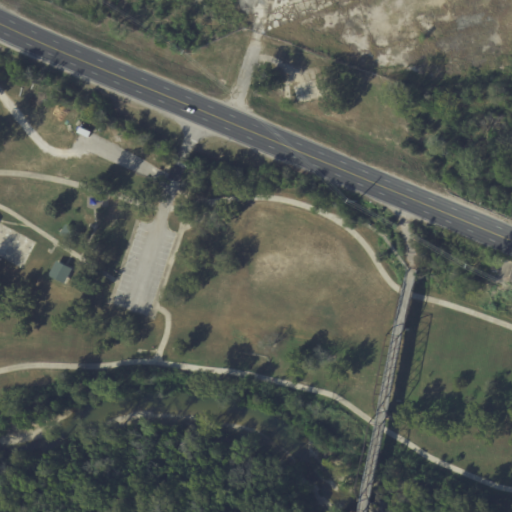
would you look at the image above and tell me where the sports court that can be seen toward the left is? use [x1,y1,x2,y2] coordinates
[0,220,36,280]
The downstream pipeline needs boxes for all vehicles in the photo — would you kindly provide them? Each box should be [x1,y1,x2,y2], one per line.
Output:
[76,126,92,136]
[186,106,196,113]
